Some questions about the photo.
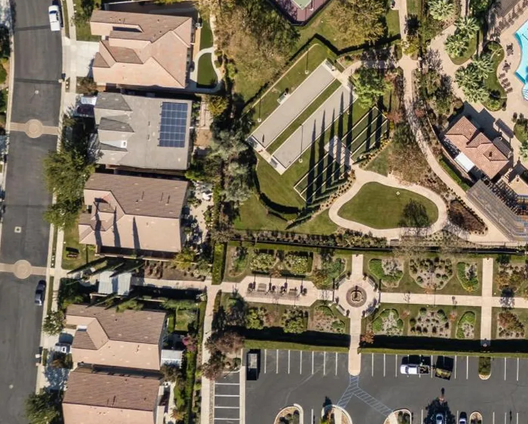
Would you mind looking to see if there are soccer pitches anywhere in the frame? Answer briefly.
No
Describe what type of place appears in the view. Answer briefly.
residential area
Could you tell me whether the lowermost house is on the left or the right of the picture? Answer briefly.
left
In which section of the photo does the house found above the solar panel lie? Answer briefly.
top left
